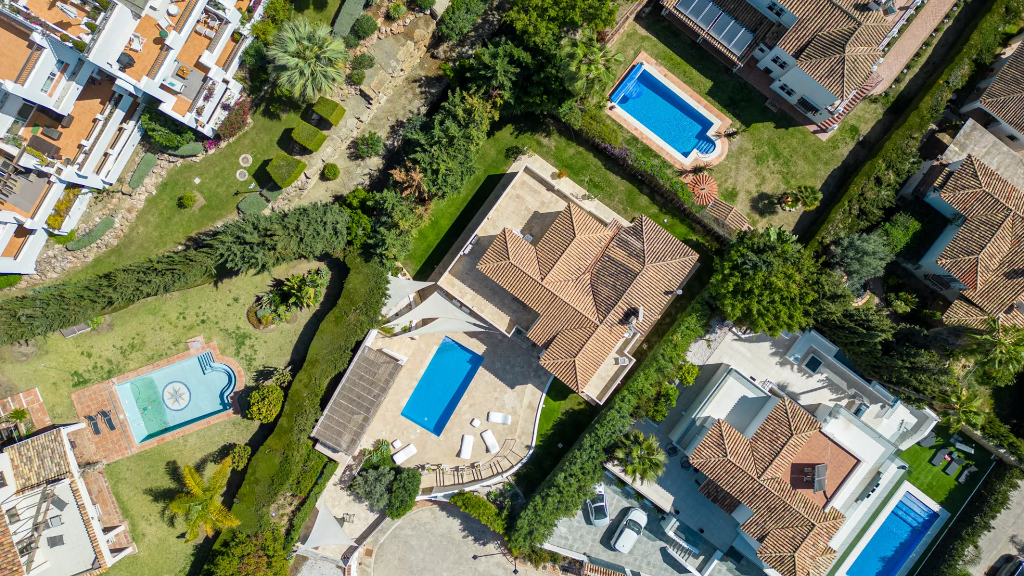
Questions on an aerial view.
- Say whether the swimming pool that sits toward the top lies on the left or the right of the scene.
right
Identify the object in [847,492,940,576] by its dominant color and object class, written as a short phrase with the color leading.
blue swimming pool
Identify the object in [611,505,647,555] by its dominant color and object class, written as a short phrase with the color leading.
white car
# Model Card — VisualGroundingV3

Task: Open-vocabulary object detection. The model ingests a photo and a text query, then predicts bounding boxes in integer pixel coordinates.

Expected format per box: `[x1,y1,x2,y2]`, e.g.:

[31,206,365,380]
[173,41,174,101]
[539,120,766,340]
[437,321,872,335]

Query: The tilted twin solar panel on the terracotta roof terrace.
[806,460,829,501]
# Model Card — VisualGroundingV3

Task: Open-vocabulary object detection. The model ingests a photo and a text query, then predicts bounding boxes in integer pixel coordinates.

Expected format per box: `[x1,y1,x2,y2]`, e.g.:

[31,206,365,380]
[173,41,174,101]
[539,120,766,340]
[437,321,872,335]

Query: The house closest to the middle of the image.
[437,163,700,405]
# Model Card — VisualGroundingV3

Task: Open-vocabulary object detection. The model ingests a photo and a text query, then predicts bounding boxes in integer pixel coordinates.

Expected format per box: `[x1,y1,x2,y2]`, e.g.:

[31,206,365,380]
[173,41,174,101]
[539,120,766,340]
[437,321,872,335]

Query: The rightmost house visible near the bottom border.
[663,364,901,576]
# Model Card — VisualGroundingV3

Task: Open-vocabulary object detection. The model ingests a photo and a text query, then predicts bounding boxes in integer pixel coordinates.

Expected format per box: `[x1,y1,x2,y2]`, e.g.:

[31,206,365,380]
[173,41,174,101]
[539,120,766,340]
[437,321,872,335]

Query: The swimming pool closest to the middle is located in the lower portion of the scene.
[401,336,484,437]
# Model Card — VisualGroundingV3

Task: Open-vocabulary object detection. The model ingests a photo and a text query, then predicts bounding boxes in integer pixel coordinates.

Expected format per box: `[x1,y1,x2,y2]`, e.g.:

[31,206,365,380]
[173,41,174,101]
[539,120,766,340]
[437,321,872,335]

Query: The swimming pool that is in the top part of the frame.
[618,67,715,158]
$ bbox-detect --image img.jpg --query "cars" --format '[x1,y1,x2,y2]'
[992,548,1024,576]
[611,505,647,555]
[590,485,611,529]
